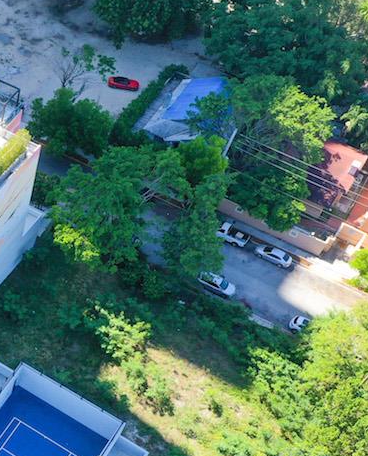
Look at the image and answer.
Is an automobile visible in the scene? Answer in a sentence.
Yes, an automobile can be made out from above.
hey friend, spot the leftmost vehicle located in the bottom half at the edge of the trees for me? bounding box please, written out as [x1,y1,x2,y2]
[199,263,241,293]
